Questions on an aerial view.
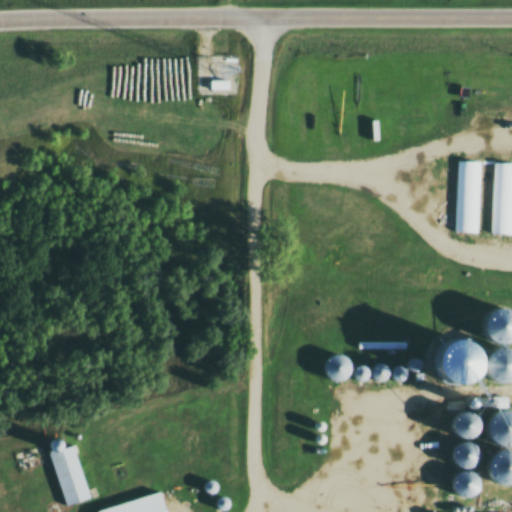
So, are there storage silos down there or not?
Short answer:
Yes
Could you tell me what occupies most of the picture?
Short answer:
grass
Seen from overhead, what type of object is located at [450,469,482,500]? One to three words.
silo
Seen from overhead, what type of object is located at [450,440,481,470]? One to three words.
silo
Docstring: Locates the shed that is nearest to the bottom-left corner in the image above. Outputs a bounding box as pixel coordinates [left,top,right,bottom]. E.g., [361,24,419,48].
[52,446,92,506]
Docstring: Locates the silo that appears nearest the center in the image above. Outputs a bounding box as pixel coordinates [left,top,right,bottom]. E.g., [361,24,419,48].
[323,354,354,382]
